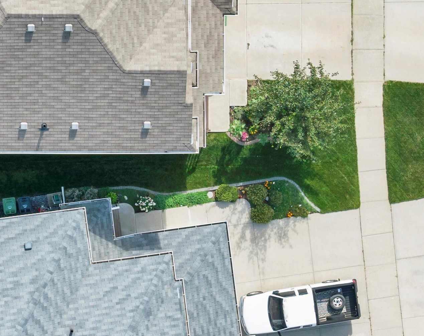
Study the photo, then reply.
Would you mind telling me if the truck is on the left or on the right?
right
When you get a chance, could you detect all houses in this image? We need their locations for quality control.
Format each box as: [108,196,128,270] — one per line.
[0,189,257,336]
[0,0,239,155]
